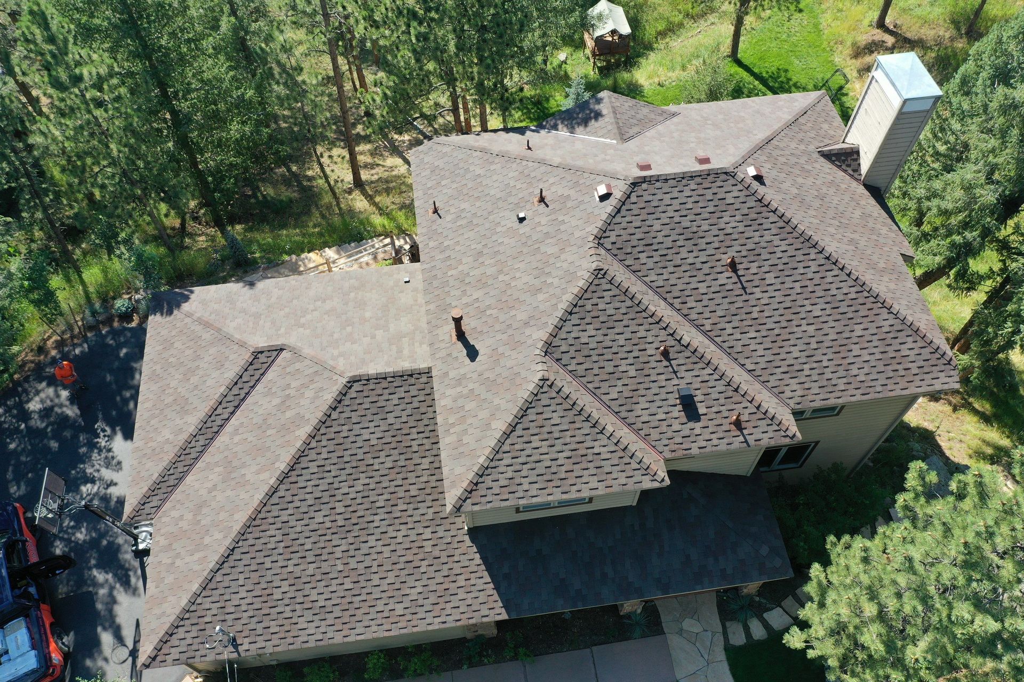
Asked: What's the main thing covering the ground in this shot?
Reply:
buildings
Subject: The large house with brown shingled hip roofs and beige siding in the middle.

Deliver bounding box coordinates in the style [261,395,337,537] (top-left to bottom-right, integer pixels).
[125,55,960,682]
